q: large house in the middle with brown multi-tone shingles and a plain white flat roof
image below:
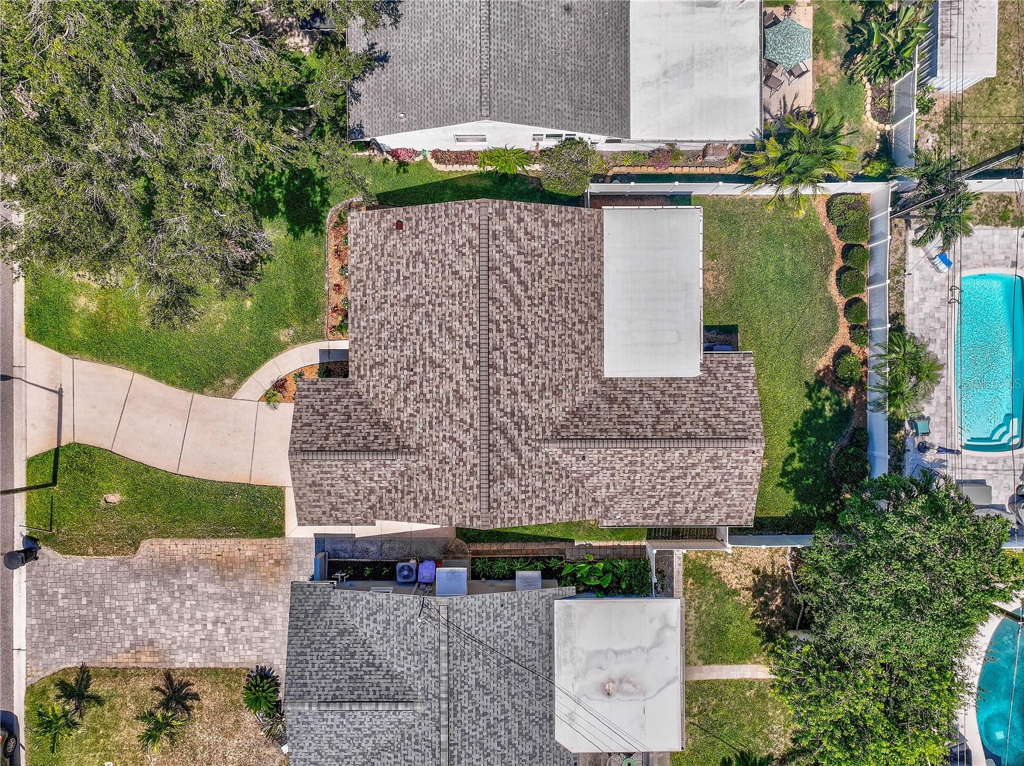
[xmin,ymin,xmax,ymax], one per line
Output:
[290,199,765,529]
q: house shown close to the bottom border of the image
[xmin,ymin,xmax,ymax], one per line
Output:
[285,566,685,766]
